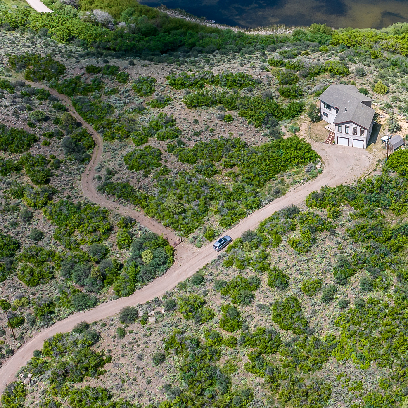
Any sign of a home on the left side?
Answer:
No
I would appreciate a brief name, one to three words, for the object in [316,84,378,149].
house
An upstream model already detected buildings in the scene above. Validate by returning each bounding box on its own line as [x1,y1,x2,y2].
[385,133,407,151]
[316,84,378,149]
